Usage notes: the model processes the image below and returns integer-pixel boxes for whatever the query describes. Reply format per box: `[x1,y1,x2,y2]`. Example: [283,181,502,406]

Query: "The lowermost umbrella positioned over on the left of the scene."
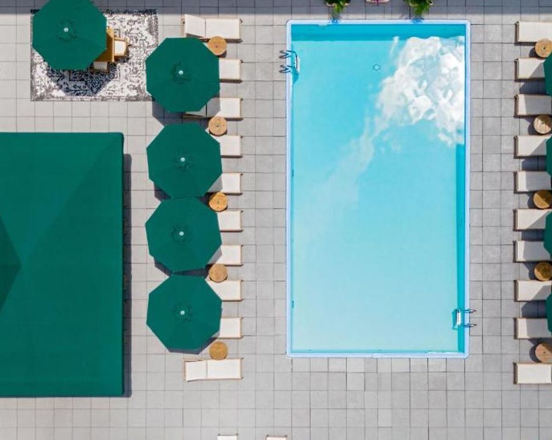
[145,276,221,352]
